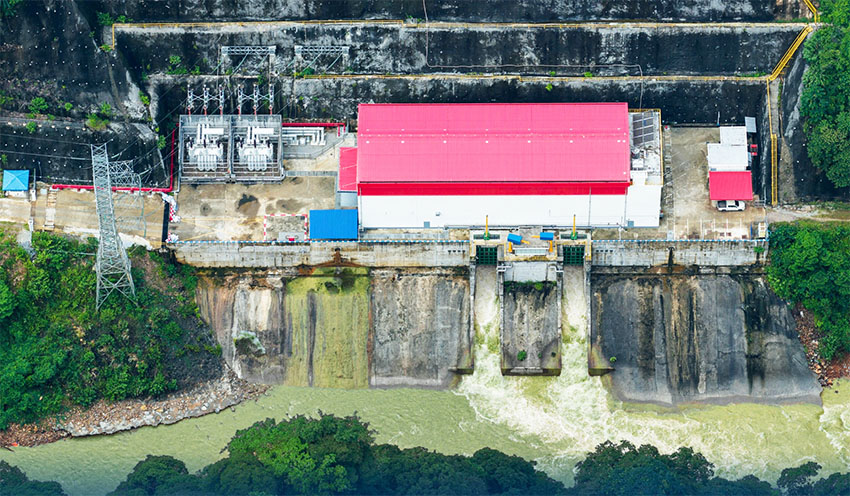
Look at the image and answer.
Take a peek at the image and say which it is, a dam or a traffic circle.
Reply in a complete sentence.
It is a dam that can be seen here.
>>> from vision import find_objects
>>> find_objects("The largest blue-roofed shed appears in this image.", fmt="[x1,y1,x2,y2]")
[310,209,357,241]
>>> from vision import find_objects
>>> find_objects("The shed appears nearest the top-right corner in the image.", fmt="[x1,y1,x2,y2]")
[706,125,750,171]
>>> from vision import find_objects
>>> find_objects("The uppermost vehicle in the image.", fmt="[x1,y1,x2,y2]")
[716,201,745,213]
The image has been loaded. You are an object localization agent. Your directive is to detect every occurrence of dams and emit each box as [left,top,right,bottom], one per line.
[173,229,822,406]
